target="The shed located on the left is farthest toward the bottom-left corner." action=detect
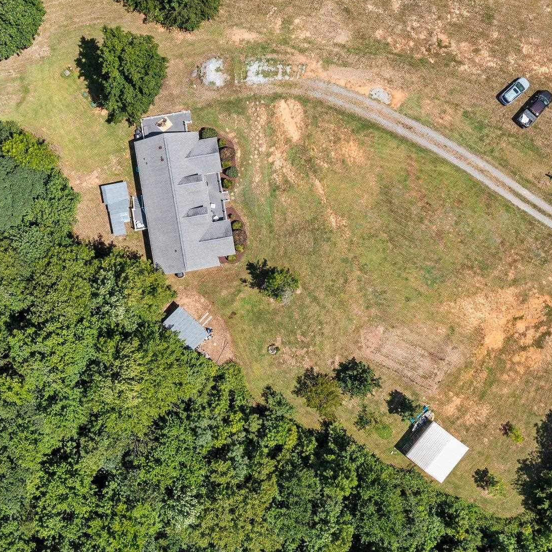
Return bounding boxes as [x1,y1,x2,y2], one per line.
[164,307,209,350]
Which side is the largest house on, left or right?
left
